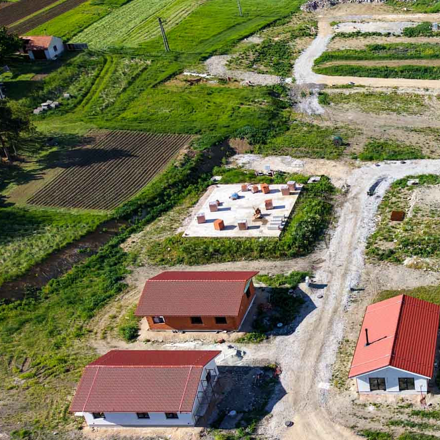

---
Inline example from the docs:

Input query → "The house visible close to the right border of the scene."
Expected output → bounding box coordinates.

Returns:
[347,293,440,394]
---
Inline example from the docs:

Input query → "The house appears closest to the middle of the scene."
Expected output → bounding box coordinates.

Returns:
[134,271,260,331]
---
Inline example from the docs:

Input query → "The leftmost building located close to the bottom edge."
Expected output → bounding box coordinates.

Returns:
[68,350,223,427]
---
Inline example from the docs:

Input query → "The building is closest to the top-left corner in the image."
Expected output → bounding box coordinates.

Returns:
[25,38,60,60]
